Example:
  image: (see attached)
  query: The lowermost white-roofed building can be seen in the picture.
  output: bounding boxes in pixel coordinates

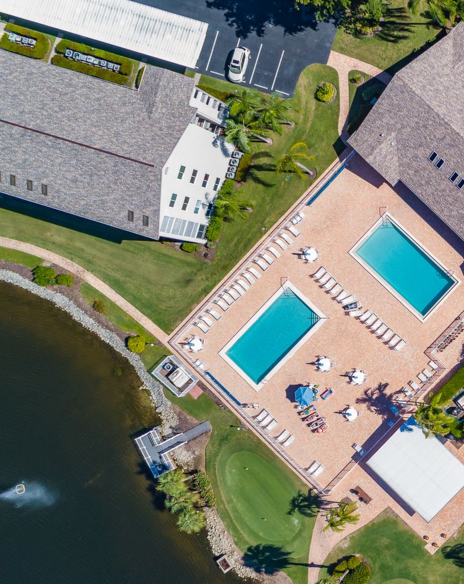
[365,417,464,523]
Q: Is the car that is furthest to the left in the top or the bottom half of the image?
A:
top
